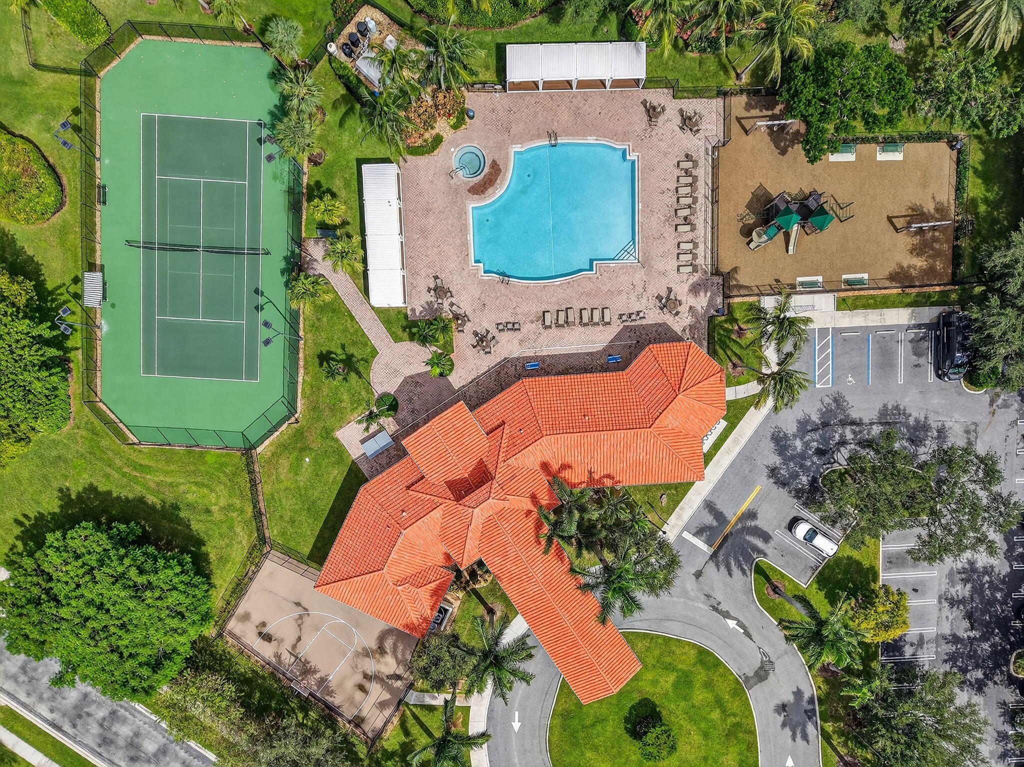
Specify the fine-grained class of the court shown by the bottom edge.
basketball court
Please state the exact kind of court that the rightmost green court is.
tennis court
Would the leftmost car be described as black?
No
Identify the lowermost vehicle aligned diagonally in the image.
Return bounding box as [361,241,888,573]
[793,518,848,564]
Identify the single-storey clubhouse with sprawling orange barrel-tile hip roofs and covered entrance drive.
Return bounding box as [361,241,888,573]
[312,340,728,706]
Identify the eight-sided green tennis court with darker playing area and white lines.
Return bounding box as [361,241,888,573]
[100,40,304,447]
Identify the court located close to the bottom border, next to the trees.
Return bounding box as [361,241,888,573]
[227,553,423,741]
